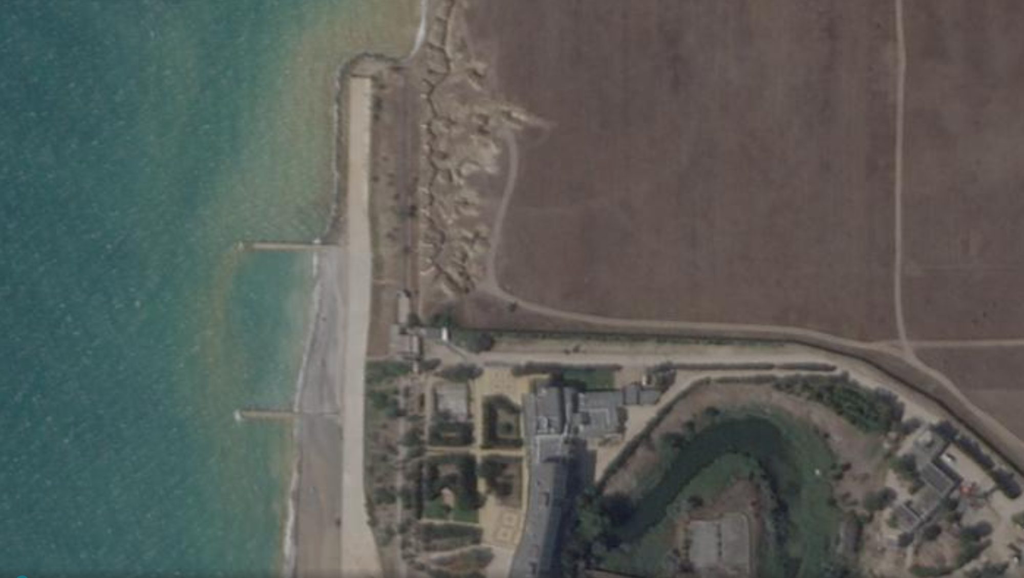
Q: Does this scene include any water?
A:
Yes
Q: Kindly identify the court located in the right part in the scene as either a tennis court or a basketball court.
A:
tennis court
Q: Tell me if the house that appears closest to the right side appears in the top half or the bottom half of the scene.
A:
bottom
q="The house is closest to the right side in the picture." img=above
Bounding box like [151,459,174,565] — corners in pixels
[891,429,955,533]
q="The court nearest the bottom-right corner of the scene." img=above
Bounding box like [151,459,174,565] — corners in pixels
[689,518,749,577]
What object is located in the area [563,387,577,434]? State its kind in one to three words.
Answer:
building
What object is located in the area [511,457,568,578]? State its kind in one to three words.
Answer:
building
